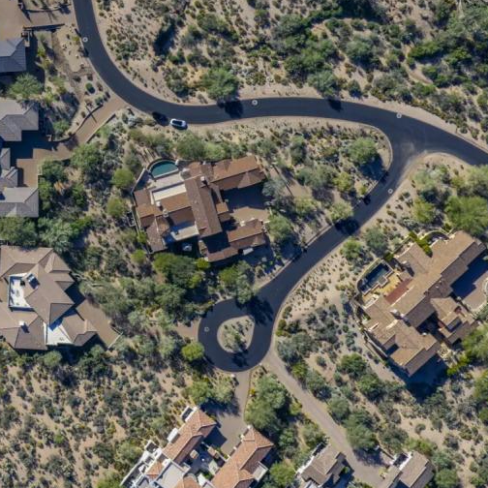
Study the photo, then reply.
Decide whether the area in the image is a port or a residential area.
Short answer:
residential area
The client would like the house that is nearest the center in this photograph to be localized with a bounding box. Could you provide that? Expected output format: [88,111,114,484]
[134,154,266,261]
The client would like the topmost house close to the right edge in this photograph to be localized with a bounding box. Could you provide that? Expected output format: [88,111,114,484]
[361,230,485,376]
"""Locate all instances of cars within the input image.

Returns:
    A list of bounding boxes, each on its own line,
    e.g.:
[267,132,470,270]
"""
[171,119,187,128]
[153,112,170,125]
